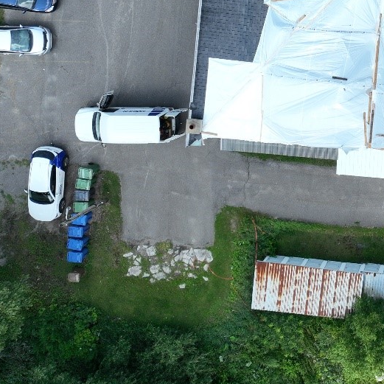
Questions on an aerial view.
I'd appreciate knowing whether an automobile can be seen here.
Yes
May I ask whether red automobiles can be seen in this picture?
No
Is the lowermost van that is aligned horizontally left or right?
left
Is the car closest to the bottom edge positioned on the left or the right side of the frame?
left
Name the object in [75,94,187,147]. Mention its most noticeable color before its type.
white van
